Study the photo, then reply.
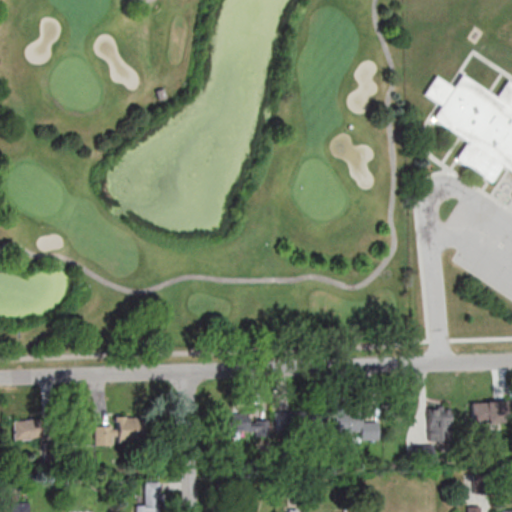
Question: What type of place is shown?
golf course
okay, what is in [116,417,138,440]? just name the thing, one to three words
house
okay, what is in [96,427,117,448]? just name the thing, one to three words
building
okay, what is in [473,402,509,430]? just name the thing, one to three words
house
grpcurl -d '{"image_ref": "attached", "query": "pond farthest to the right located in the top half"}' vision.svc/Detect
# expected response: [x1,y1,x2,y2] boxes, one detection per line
[108,0,285,230]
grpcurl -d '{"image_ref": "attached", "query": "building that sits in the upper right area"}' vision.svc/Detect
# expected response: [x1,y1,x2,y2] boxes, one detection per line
[424,72,512,186]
